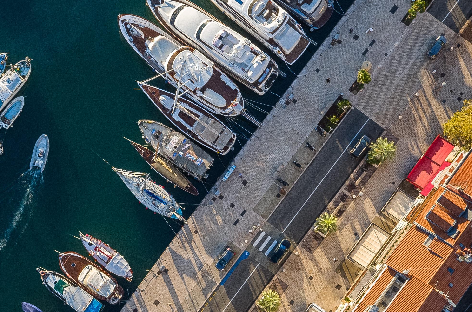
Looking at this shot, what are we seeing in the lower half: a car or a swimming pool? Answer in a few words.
car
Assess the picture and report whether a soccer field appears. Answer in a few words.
No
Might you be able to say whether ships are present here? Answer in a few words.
Yes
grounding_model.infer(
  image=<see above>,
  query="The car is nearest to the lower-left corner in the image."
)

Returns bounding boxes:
[214,245,236,271]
